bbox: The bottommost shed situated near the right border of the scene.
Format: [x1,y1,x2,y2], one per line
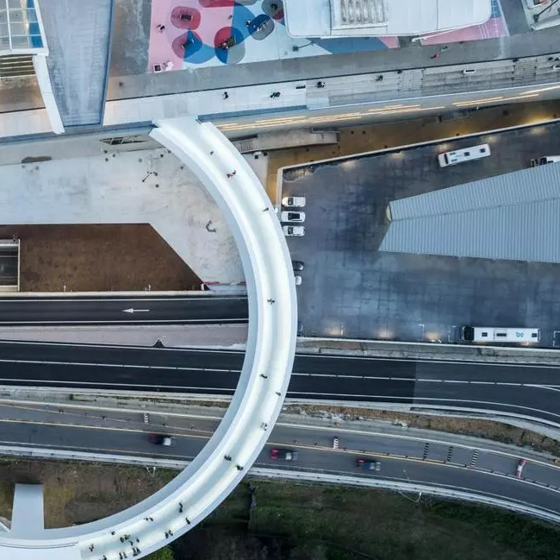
[378,160,560,266]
